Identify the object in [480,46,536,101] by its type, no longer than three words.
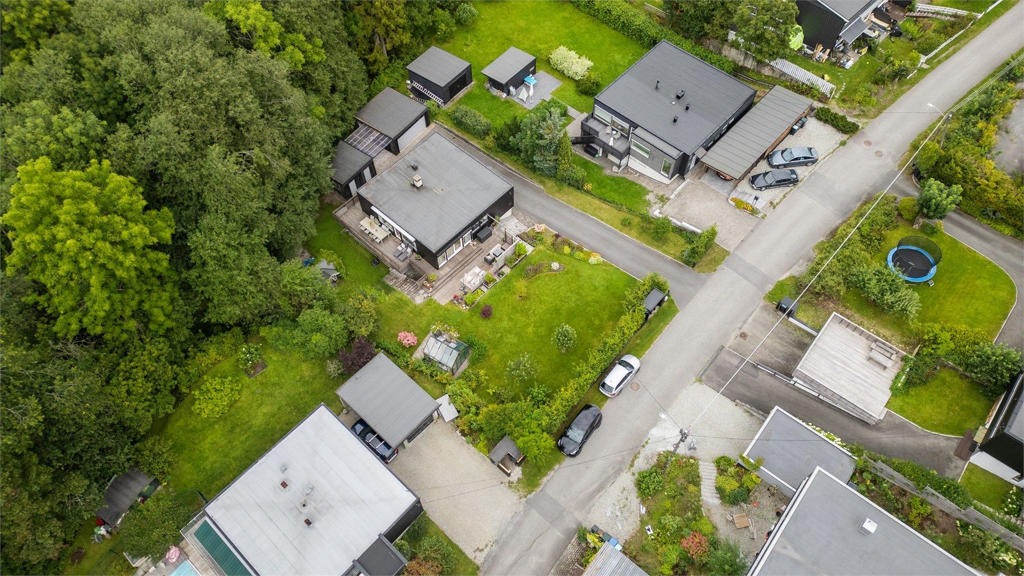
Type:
shed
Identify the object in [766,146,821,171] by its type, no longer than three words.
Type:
car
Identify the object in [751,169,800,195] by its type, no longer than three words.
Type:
car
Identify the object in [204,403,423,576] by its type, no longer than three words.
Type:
house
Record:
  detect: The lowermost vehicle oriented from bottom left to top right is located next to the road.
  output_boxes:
[558,399,605,459]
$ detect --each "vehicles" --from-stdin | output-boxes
[597,352,642,401]
[751,169,800,195]
[350,420,405,469]
[558,399,605,459]
[766,146,821,171]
